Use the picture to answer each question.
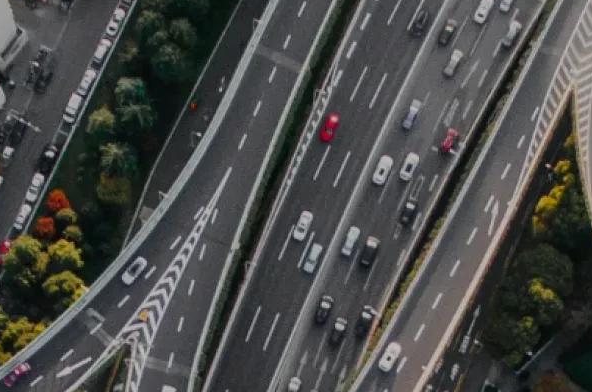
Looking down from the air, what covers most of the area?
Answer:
paved ground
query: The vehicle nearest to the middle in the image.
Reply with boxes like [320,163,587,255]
[293,211,312,240]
